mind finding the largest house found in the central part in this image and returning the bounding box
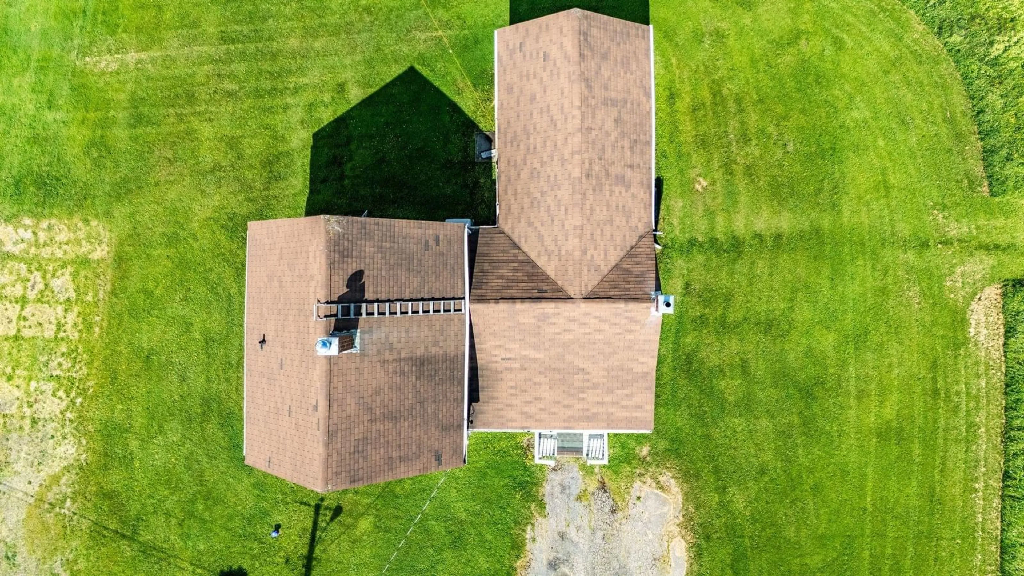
[244,7,675,493]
